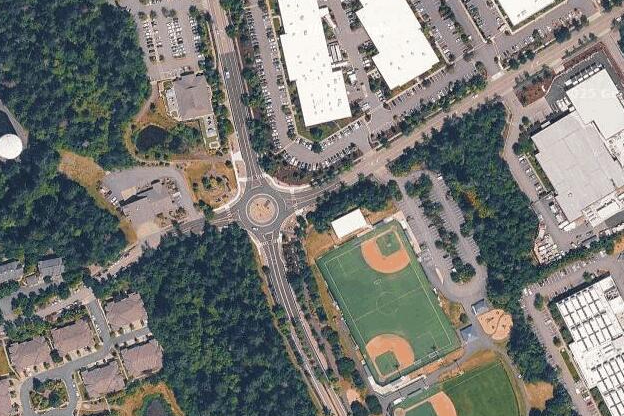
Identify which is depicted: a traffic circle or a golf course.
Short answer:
traffic circle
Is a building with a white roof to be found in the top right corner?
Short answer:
Yes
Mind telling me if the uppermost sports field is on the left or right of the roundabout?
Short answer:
right of it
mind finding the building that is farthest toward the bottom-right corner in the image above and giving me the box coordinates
[556,276,624,416]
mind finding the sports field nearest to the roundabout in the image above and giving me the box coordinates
[316,221,462,385]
